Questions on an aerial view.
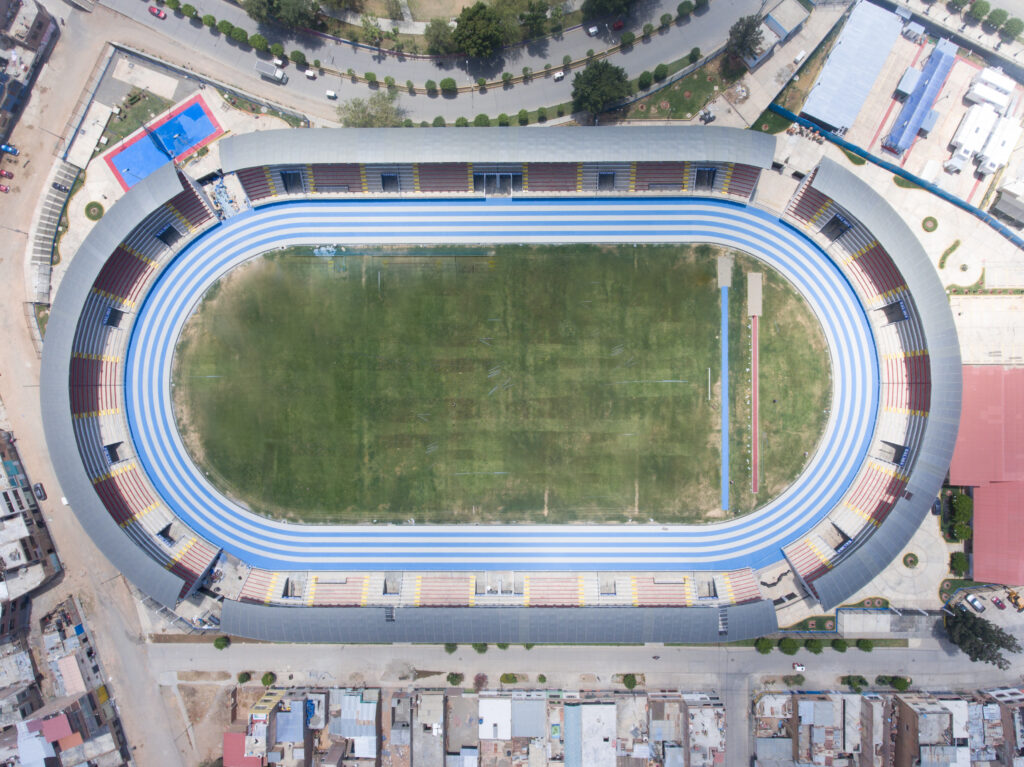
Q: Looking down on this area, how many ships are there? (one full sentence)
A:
I count no ships.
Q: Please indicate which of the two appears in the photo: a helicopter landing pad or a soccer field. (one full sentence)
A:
There is a soccer field in the scene.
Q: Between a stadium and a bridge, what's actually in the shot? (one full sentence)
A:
Of the two, only a stadium appears.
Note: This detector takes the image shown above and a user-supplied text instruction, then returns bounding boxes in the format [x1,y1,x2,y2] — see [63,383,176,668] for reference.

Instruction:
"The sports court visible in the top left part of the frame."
[104,94,223,192]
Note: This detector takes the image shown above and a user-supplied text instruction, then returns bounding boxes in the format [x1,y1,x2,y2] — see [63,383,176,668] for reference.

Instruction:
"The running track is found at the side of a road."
[124,193,879,575]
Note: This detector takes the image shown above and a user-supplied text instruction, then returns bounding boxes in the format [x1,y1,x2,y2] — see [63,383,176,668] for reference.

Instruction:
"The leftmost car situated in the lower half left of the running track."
[33,481,49,502]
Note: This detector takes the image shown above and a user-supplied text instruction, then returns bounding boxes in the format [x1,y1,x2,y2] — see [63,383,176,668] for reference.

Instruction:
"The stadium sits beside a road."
[40,127,961,643]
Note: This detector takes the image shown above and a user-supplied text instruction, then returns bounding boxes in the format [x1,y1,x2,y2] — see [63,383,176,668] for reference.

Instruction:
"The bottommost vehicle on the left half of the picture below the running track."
[207,612,222,625]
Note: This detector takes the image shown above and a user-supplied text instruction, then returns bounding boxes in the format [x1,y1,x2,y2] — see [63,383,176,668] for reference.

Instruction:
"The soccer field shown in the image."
[170,244,833,524]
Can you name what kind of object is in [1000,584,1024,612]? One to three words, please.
work vehicle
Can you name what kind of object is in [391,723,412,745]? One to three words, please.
shed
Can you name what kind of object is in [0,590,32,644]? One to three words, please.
house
